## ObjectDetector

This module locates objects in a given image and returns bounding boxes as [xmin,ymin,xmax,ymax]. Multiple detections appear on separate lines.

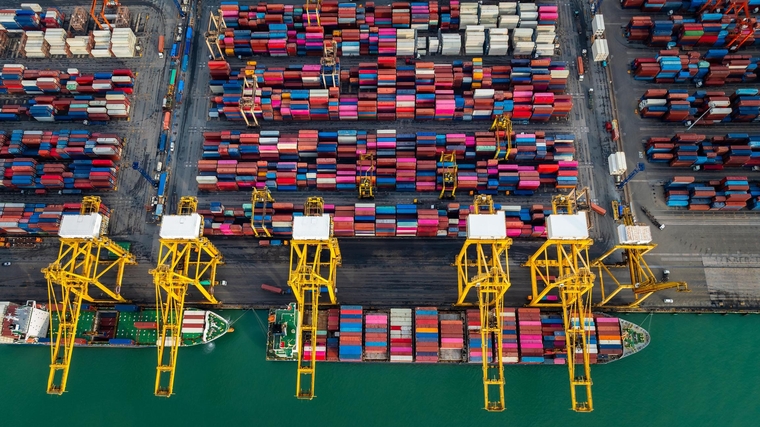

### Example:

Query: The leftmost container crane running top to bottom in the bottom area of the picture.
[45,192,140,396]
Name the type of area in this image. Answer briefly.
port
